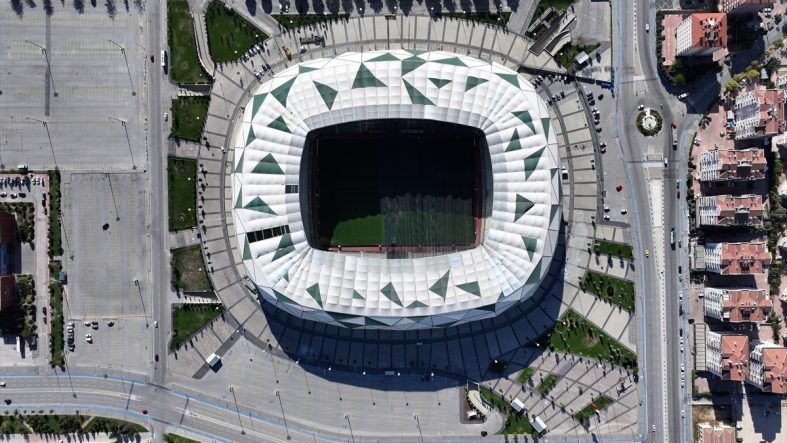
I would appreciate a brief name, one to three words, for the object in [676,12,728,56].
building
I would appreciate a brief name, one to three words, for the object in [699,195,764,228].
building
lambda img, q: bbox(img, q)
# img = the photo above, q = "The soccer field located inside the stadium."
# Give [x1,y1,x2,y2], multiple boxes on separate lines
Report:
[318,136,479,251]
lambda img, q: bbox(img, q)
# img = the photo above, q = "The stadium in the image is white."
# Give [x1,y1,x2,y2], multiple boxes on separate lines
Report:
[231,48,562,330]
